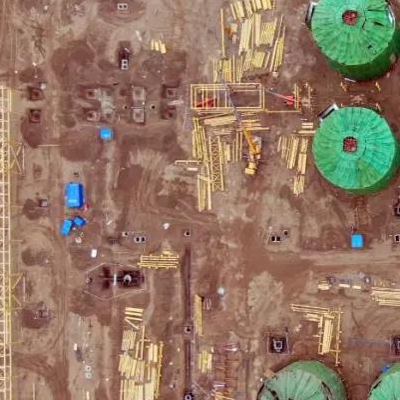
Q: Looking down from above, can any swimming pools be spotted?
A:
No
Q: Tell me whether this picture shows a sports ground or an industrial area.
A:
industrial area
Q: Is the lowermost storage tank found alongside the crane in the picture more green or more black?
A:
green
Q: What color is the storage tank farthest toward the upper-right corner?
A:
green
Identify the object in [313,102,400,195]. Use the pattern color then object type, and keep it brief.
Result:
green storage tank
